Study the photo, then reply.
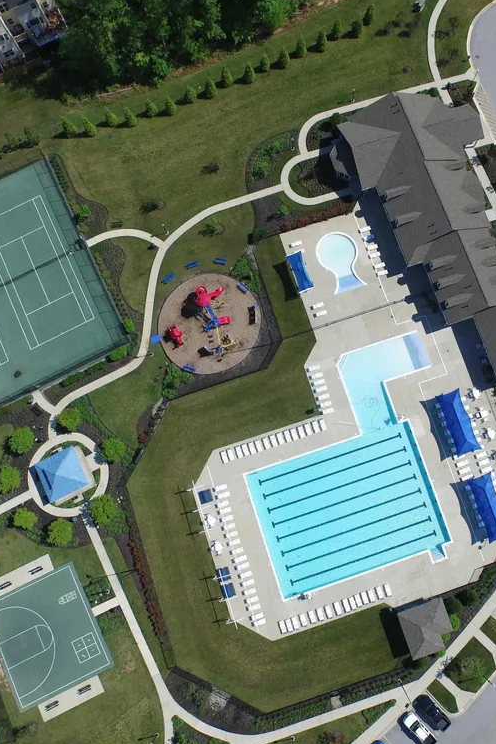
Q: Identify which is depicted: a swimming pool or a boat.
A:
swimming pool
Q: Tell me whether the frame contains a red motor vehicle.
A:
No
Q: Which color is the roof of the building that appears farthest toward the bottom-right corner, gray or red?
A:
gray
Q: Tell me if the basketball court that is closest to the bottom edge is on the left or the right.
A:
left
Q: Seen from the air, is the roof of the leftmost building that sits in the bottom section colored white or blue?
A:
blue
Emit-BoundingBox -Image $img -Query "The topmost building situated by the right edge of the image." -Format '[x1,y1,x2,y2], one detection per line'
[329,94,496,378]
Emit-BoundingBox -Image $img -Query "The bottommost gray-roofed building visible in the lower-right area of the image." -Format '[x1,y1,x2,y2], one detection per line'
[398,597,453,660]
